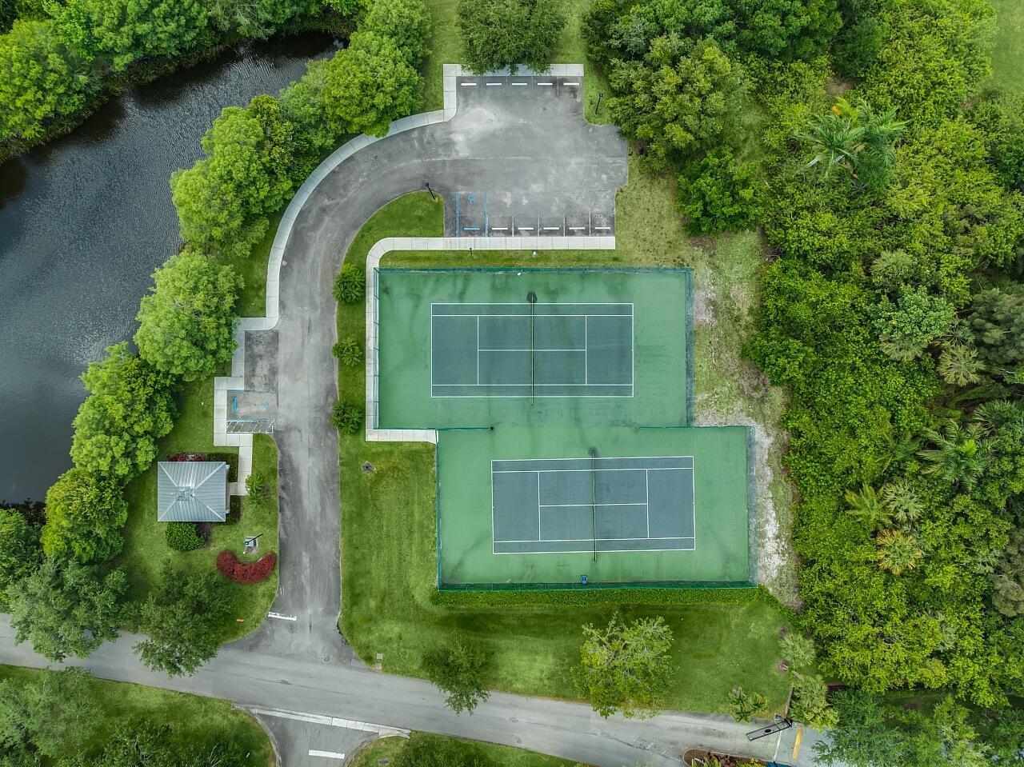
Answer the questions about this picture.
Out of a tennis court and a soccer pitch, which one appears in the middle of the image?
tennis court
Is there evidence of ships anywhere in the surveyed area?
No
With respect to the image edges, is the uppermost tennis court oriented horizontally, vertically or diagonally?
horizontally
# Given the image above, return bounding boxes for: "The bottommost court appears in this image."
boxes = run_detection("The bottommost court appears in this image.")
[438,428,750,585]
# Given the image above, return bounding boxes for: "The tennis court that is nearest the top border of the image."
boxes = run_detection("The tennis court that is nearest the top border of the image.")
[379,273,687,430]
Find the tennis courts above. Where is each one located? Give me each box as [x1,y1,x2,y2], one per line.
[438,428,750,585]
[379,273,687,430]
